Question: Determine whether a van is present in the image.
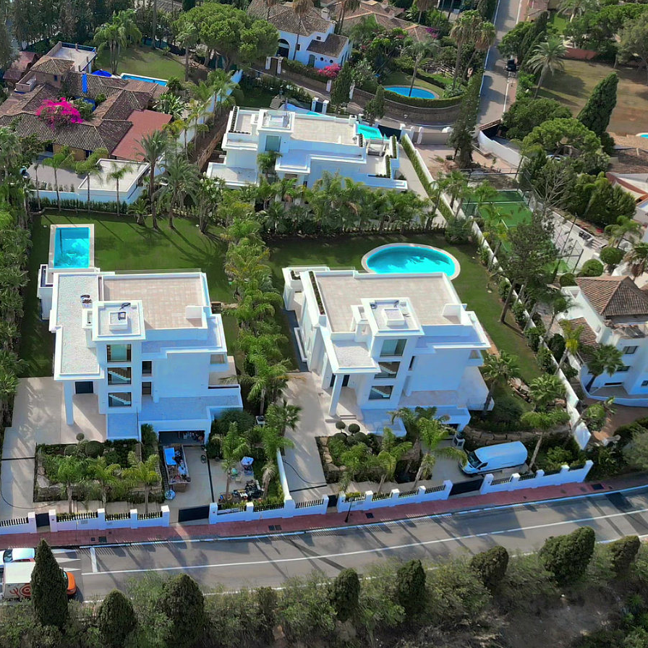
Yes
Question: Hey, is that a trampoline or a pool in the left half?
pool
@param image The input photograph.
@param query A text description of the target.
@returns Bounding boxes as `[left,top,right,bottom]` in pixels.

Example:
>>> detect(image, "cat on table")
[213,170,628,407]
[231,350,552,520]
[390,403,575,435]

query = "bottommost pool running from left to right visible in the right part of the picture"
[360,240,461,273]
